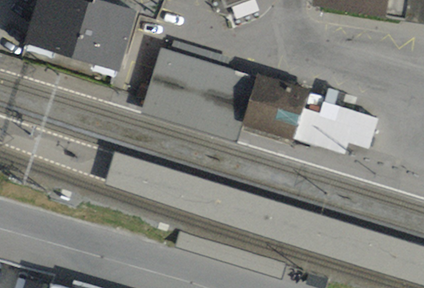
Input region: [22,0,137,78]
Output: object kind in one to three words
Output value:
house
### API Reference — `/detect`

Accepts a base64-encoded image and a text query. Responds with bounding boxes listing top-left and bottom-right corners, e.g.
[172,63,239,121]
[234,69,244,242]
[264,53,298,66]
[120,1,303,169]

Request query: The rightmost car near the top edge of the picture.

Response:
[162,13,186,26]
